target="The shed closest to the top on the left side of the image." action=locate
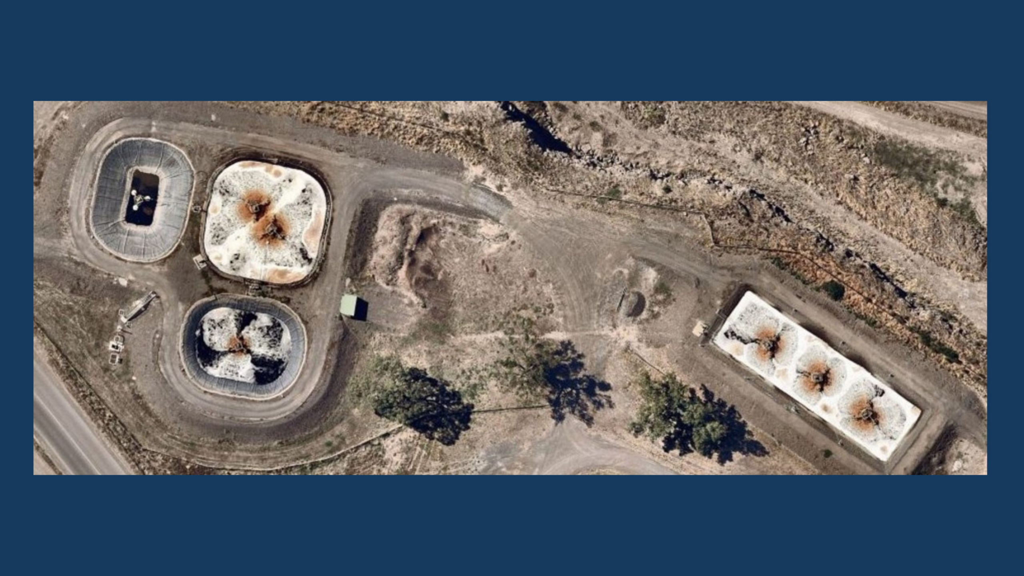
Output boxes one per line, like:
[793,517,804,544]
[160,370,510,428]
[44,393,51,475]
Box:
[339,295,356,317]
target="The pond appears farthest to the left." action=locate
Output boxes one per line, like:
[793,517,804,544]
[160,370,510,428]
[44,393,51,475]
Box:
[88,136,195,262]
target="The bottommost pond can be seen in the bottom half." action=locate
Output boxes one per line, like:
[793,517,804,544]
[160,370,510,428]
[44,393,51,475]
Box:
[178,293,308,401]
